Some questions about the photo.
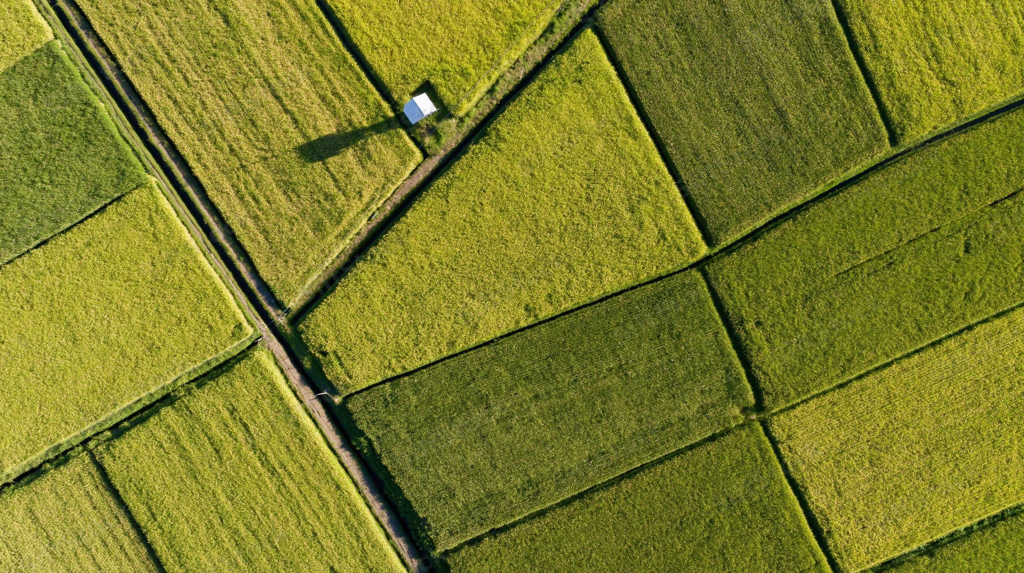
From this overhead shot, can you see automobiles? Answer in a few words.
No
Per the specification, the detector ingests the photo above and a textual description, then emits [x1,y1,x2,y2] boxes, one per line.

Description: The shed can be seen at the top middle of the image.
[404,93,439,124]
